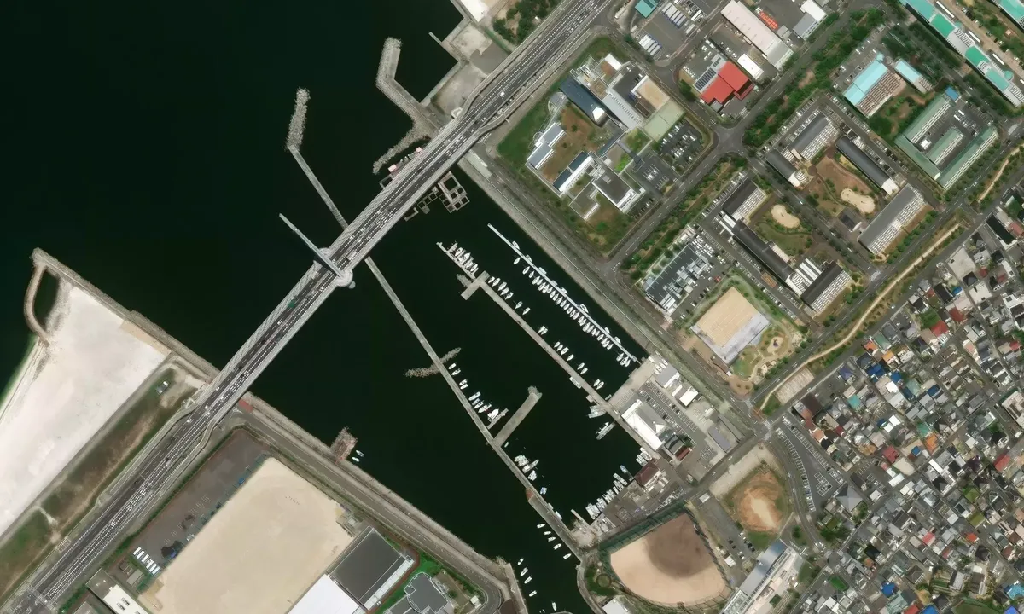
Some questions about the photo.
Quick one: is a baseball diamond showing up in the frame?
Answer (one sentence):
Yes, the picture does show a baseball diamond.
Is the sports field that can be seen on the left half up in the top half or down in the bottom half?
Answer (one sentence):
The sports field that can be seen on the left half is in the bottom half of the image.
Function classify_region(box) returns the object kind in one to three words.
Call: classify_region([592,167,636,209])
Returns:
building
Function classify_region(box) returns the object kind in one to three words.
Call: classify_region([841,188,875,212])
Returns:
playground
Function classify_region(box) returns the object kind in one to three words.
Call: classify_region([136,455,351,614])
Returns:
sports field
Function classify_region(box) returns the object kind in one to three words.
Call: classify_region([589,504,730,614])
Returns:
baseball field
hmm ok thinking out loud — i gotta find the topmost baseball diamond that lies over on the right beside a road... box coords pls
[733,461,788,533]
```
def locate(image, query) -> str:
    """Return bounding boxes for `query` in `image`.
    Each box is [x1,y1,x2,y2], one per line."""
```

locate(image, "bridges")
[15,0,610,614]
